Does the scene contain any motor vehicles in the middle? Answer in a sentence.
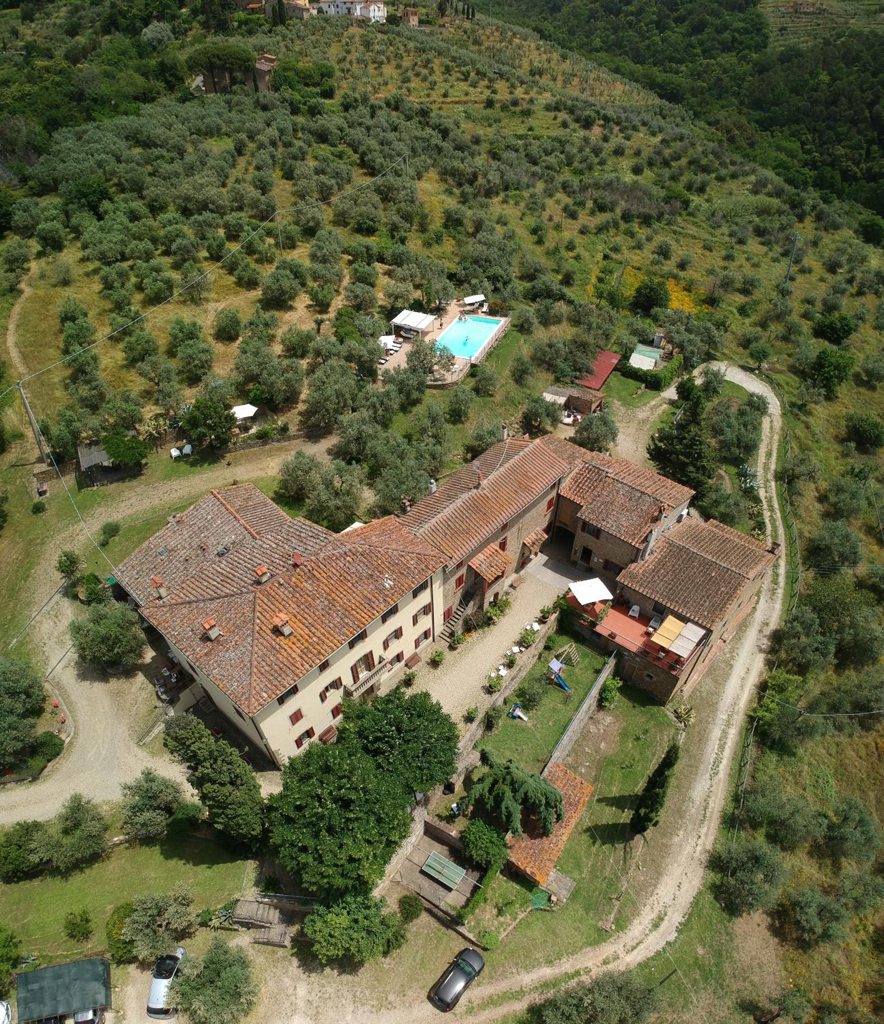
No, no motor vehicle can be made out in the middle.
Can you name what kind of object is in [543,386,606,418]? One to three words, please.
shed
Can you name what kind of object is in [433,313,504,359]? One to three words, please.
swimming pool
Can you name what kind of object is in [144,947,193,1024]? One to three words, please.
car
